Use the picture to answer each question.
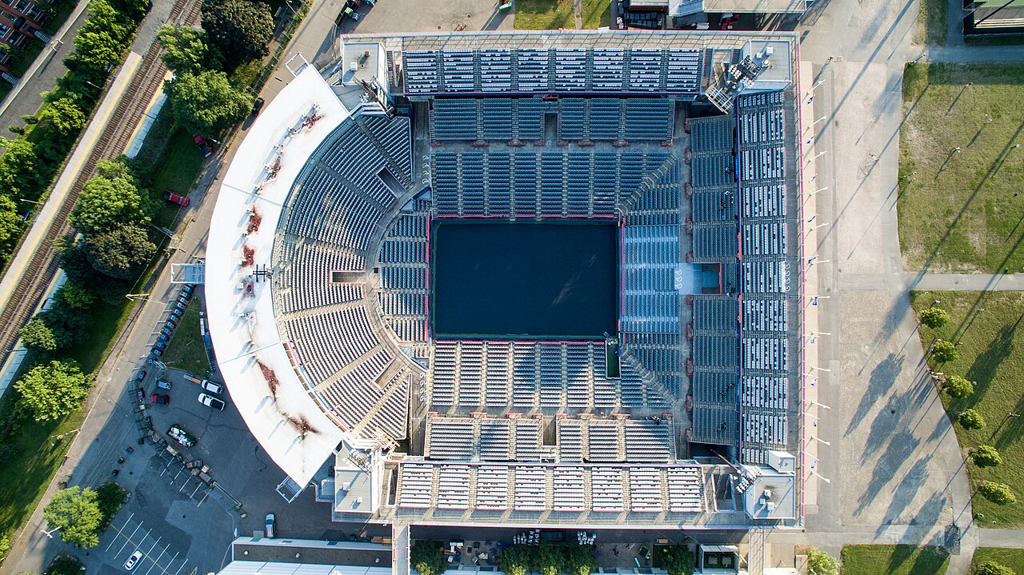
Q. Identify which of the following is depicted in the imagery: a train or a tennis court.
tennis court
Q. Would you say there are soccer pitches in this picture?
No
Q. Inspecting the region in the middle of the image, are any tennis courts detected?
Yes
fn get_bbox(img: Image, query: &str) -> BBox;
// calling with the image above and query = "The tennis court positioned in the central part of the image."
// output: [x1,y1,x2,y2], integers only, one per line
[429,218,621,340]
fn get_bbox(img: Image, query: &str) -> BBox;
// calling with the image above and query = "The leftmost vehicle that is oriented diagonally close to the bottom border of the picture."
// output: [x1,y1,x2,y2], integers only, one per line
[123,549,144,572]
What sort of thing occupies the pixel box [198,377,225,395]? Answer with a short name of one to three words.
vehicle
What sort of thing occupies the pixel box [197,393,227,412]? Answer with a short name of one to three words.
vehicle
